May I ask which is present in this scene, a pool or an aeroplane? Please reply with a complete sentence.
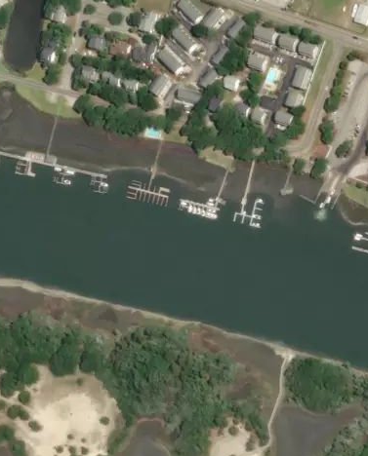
Of the two, only a pool appears.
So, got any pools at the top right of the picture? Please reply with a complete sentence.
Yes, looking at the top right of the picture, one can make out a pool.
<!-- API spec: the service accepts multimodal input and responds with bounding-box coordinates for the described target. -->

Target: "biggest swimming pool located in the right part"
[261,63,285,91]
